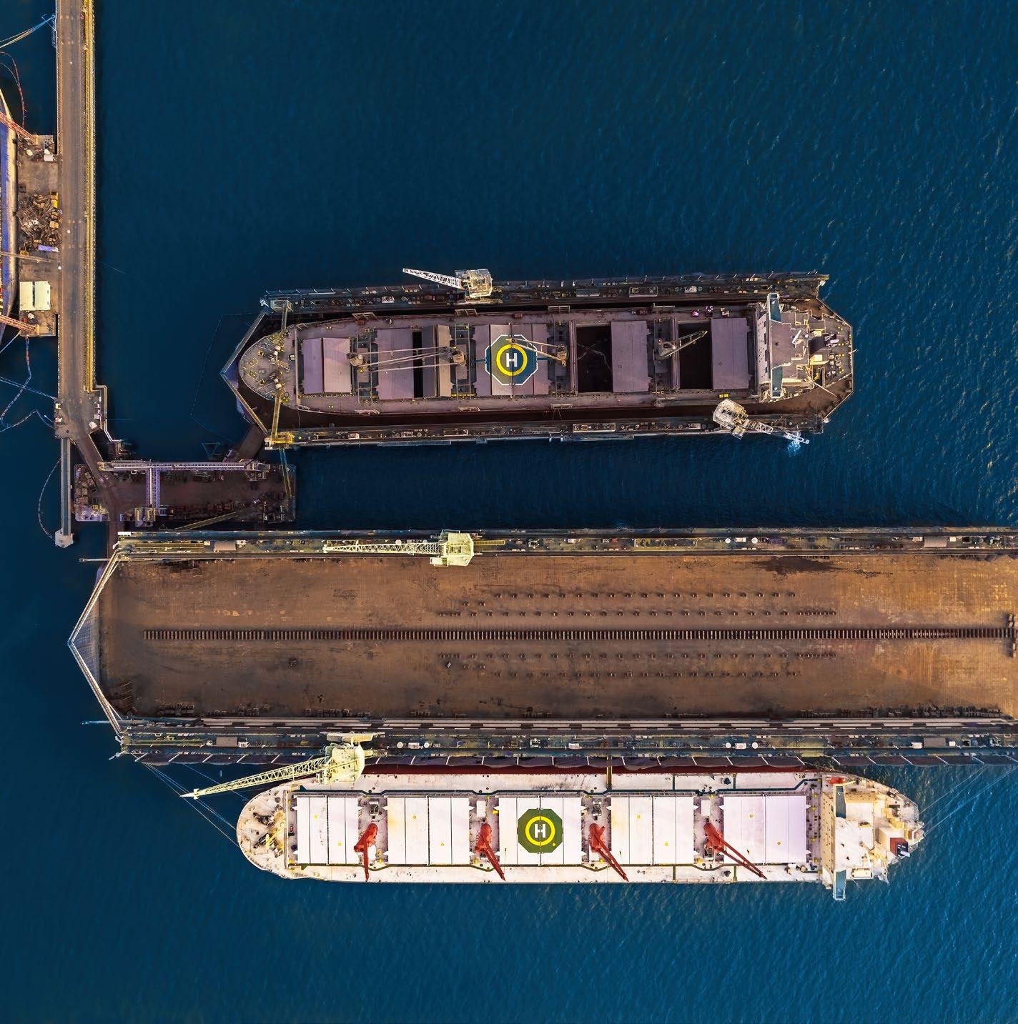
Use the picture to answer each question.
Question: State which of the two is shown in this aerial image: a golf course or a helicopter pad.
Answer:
helicopter pad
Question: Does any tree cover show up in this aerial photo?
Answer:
No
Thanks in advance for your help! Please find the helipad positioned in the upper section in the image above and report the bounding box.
[485,334,537,385]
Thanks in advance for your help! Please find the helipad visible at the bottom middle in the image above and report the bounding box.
[518,808,563,853]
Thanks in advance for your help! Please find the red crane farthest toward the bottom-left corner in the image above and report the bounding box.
[357,821,378,882]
